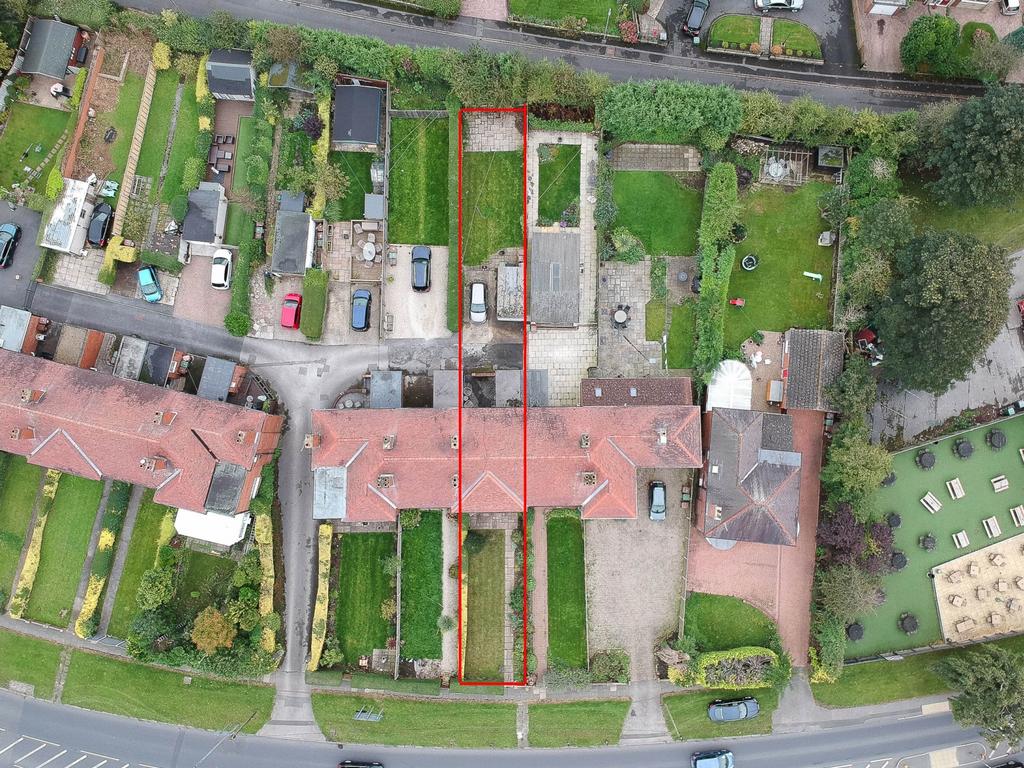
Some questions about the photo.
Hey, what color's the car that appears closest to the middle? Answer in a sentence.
From above, the car that appears closest to the middle appears white.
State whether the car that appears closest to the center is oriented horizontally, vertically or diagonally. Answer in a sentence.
In this picture, the car that appears closest to the center lies vertically.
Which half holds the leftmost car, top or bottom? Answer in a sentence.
The top half of the photo is where the leftmost car is.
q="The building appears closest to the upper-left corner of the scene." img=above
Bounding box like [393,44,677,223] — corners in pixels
[21,17,84,80]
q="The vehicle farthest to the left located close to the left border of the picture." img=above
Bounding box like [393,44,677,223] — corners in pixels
[0,224,24,269]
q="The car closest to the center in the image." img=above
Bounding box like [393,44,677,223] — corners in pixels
[467,281,489,323]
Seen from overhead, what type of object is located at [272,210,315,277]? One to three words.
building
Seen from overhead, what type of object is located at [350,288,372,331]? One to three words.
car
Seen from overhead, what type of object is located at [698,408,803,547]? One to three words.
house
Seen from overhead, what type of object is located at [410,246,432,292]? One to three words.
car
